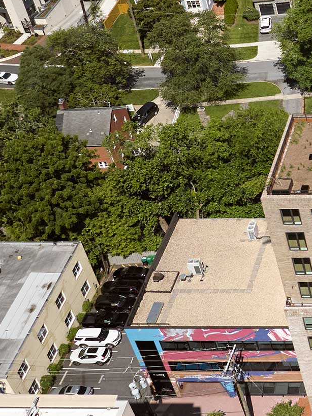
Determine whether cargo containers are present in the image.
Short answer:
No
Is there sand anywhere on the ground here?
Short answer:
No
